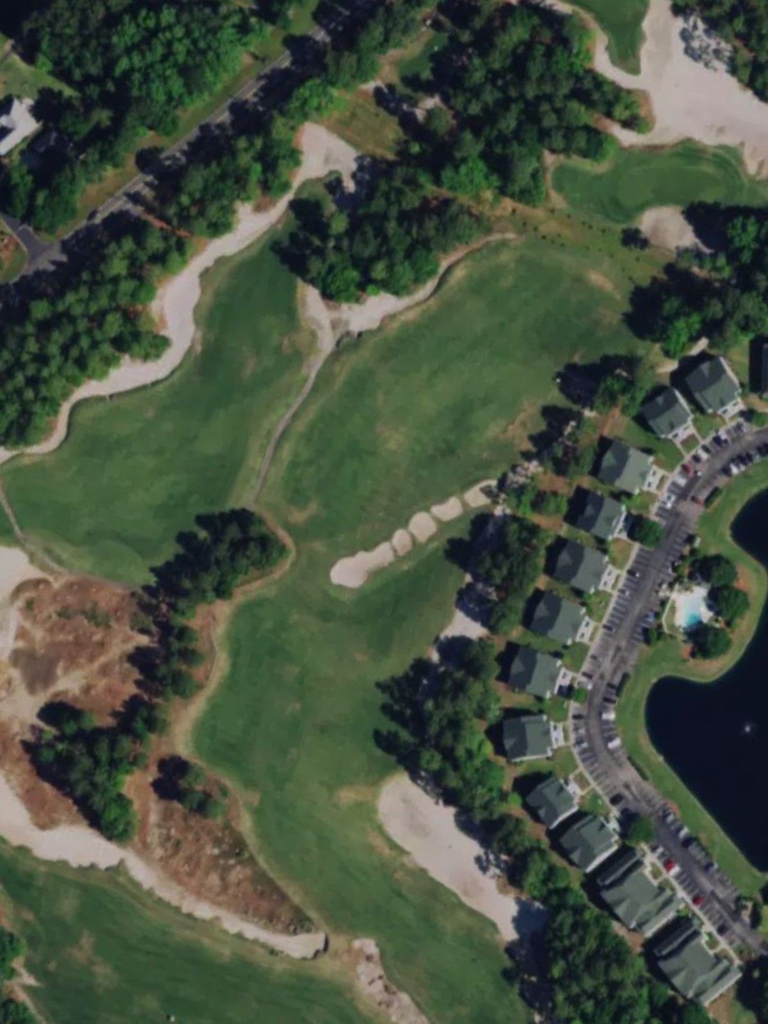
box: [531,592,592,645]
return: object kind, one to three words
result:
house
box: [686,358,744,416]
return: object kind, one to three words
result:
house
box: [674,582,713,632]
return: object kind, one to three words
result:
swimming pool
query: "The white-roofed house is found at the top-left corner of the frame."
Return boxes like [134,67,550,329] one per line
[0,98,40,158]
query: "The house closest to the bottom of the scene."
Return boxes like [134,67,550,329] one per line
[661,922,742,1006]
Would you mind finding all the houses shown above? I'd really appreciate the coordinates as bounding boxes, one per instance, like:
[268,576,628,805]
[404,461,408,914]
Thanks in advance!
[686,358,744,416]
[602,853,683,937]
[661,922,742,1006]
[555,542,616,595]
[598,440,660,497]
[504,715,561,762]
[531,592,592,645]
[643,389,698,442]
[527,775,583,828]
[0,98,40,158]
[509,647,571,699]
[576,491,633,542]
[563,815,623,872]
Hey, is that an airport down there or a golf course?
golf course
